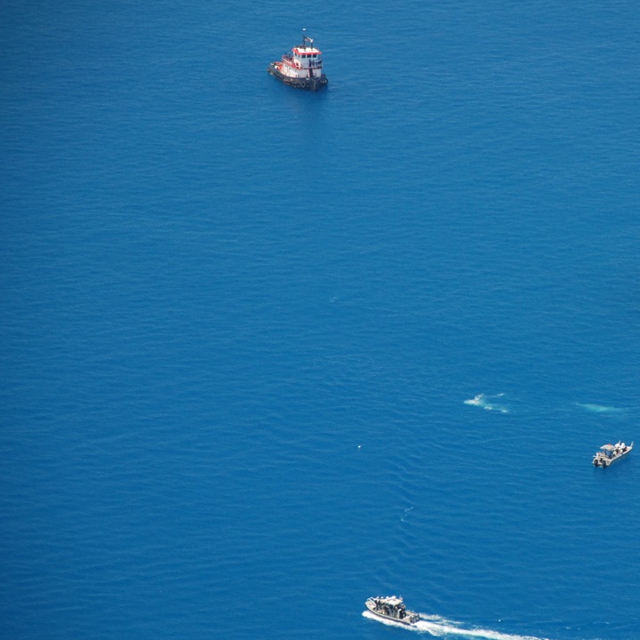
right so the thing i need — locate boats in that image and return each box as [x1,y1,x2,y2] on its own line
[592,440,632,468]
[271,37,328,89]
[363,594,420,623]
